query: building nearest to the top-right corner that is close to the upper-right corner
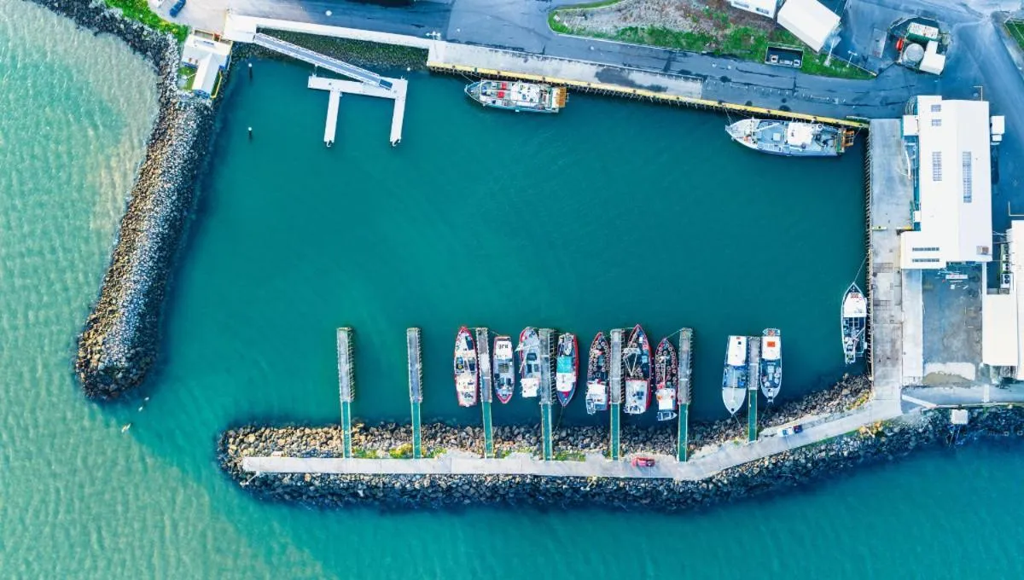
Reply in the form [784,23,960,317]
[913,40,945,80]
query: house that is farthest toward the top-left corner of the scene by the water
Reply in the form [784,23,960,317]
[182,35,236,98]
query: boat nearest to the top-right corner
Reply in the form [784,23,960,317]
[726,117,855,157]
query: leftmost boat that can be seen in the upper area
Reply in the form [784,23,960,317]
[464,79,569,115]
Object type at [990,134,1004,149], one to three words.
vehicle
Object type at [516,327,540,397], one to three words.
boat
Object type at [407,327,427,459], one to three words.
pier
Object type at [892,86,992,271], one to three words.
building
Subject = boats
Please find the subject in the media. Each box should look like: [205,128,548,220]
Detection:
[840,282,868,356]
[516,327,540,397]
[493,336,515,404]
[726,117,855,157]
[454,326,478,407]
[623,325,654,414]
[464,79,569,115]
[587,333,609,411]
[763,329,781,336]
[556,333,578,407]
[656,339,677,411]
[657,412,677,421]
[759,336,782,402]
[723,336,747,416]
